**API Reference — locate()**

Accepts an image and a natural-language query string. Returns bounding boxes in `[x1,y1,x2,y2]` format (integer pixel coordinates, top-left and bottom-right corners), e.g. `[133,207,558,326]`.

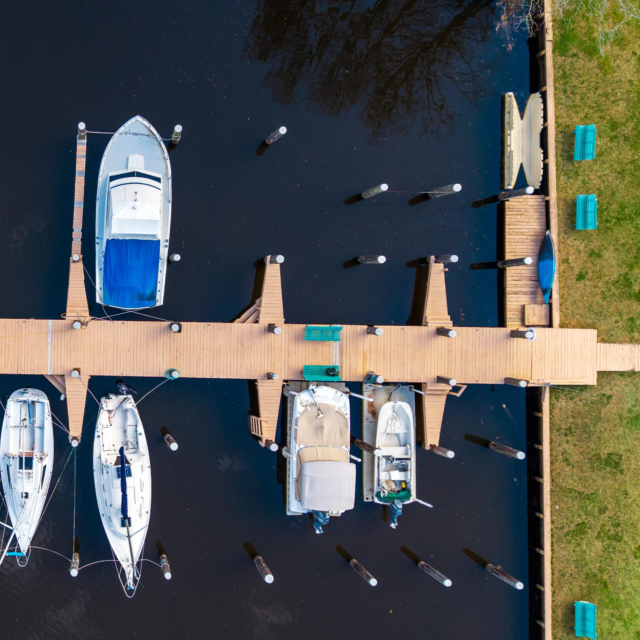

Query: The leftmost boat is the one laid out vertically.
[0,387,55,569]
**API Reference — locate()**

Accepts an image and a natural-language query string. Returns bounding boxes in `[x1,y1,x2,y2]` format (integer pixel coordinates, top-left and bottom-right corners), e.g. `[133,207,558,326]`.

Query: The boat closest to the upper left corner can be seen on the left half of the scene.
[95,114,173,309]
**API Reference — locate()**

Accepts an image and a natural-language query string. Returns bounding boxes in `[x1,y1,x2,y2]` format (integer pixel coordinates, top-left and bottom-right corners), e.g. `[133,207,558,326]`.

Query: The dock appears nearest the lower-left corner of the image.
[42,375,88,439]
